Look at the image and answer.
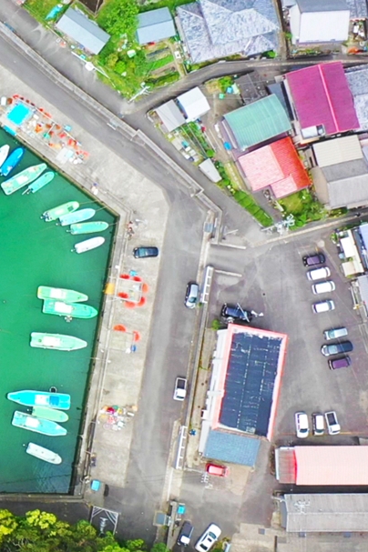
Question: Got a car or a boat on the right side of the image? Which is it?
car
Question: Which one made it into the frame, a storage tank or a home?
home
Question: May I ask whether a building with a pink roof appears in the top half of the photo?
Yes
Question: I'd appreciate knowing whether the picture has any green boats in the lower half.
Yes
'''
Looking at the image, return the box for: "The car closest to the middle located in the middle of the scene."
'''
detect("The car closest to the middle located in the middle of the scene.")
[182,282,200,307]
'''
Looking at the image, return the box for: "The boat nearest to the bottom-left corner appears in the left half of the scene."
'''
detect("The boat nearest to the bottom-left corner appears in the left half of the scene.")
[23,442,61,463]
